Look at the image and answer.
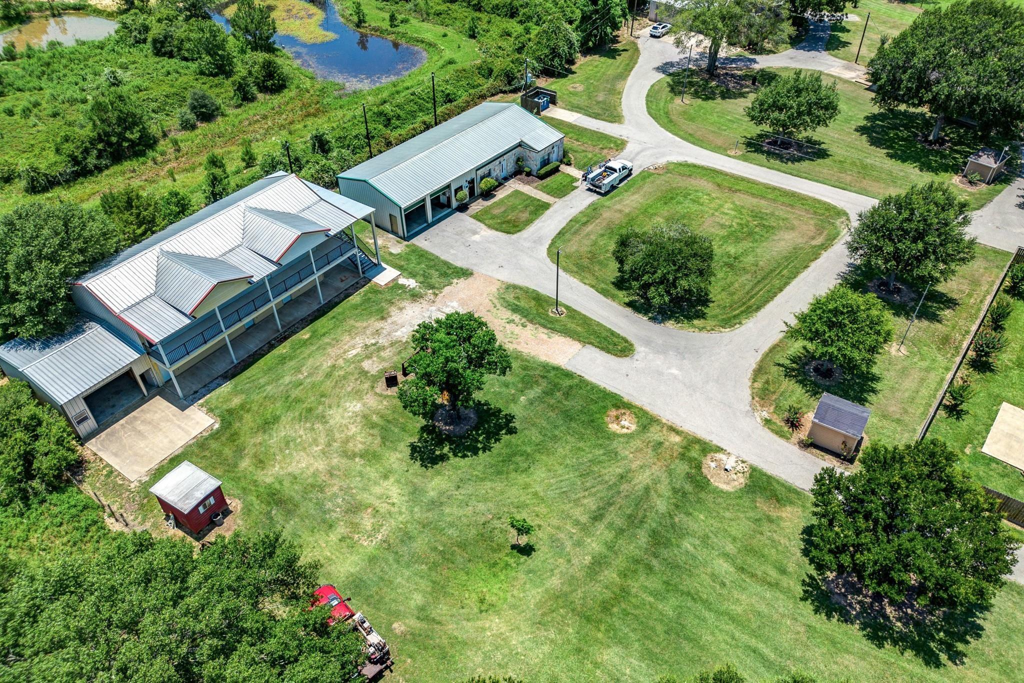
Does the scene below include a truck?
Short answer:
Yes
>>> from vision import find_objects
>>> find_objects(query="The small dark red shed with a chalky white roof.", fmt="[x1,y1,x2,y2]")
[151,462,229,534]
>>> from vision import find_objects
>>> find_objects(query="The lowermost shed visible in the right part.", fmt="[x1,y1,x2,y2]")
[809,394,874,453]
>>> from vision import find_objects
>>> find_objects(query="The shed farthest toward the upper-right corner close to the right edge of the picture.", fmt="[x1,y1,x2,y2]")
[963,146,1011,185]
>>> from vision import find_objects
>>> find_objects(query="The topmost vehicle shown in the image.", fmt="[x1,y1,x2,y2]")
[652,23,672,37]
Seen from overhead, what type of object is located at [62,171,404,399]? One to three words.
house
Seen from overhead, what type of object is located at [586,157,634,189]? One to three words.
truck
